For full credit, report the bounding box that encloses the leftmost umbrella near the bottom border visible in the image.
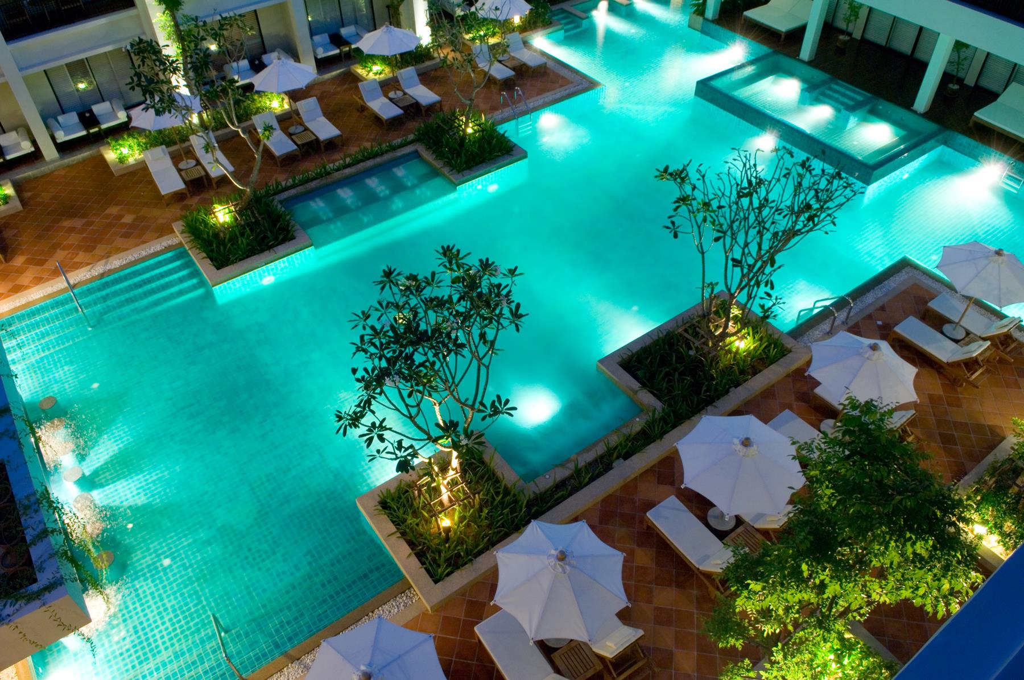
[307,613,448,680]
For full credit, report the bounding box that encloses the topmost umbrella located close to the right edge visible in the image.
[930,241,1024,341]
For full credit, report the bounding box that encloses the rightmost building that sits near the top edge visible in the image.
[800,0,1024,113]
